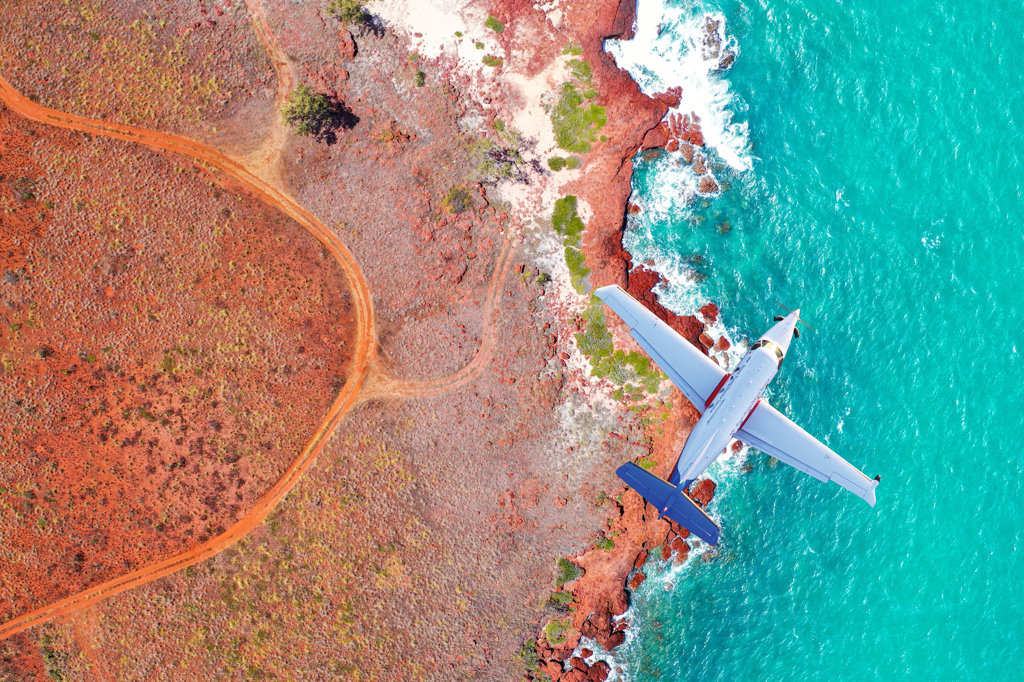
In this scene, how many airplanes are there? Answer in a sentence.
I count 1 airplane.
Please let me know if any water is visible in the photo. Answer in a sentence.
Yes, there is water in the image.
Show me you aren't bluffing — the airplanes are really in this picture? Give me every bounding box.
[594,289,887,547]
